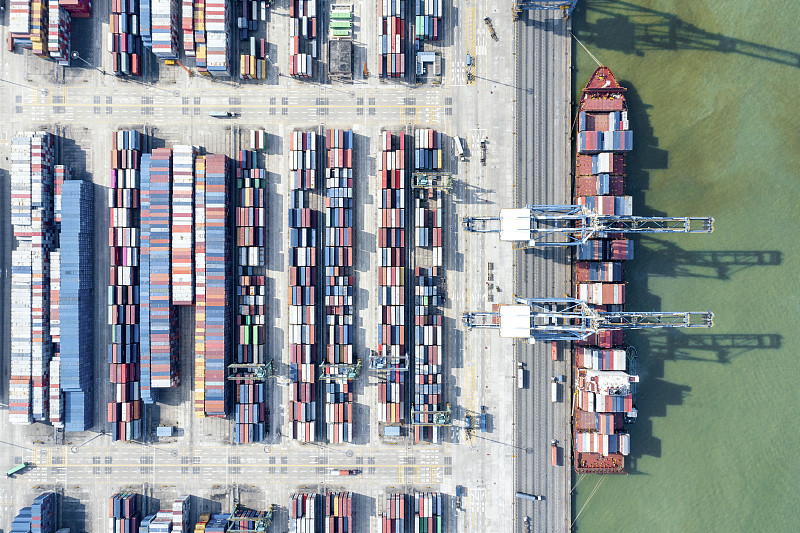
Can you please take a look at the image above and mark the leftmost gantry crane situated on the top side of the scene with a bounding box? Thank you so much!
[409,170,452,195]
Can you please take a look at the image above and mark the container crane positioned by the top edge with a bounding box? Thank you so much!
[516,0,578,21]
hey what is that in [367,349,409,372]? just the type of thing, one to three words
container crane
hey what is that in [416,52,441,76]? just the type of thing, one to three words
building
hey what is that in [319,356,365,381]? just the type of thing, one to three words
container crane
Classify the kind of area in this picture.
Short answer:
port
